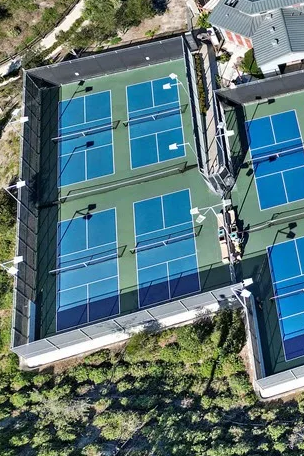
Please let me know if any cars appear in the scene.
No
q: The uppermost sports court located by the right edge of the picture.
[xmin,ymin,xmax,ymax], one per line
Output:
[245,109,304,210]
